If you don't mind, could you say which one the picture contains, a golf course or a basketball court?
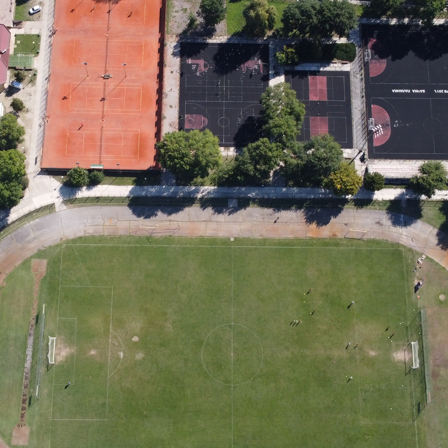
basketball court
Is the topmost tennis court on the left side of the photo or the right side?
left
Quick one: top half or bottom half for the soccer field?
bottom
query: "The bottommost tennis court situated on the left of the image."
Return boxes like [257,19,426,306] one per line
[41,122,162,168]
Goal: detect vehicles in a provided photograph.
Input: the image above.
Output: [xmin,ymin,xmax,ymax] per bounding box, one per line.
[28,4,42,14]
[9,80,23,89]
